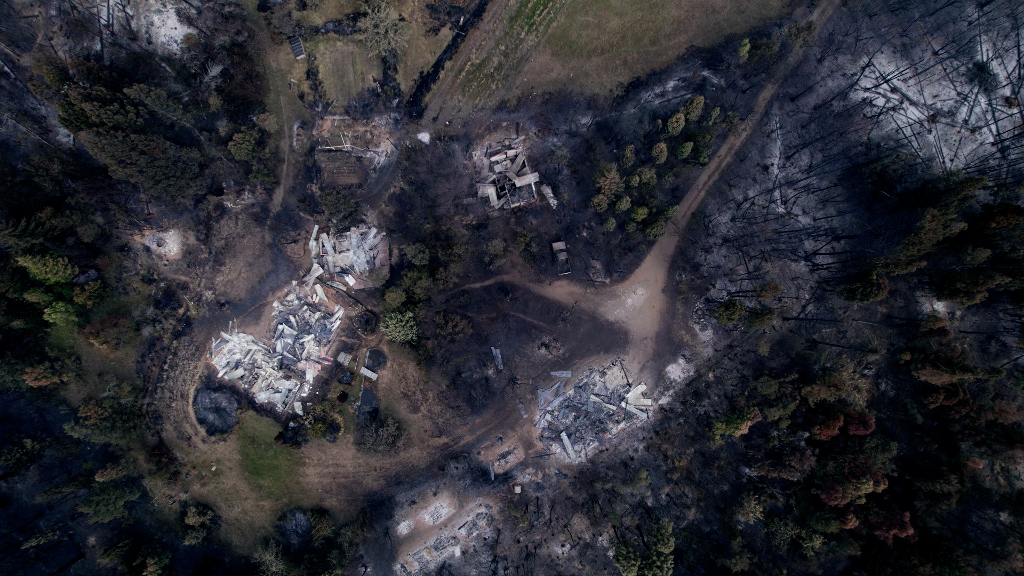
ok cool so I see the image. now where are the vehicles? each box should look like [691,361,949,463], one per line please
[552,241,569,275]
